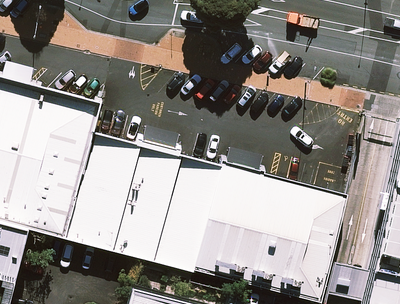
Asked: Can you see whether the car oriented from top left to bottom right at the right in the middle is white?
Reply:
Yes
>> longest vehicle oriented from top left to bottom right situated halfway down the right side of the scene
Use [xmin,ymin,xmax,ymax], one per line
[289,124,316,147]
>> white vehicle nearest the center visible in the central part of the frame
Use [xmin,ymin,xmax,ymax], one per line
[207,132,220,158]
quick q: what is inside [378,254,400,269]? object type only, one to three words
car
